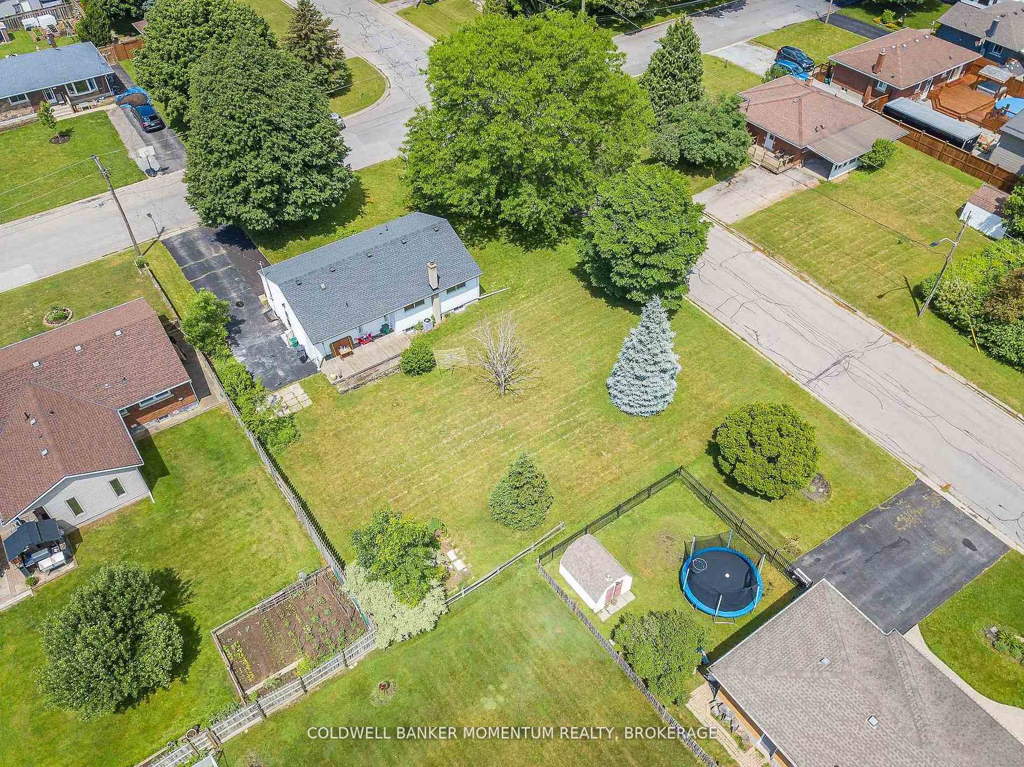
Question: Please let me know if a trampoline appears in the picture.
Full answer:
Yes, the frame does contain a trampoline.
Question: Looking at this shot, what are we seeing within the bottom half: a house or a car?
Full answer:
Visible within the bottom half is a house.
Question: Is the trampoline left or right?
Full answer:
The trampoline sits on the right side.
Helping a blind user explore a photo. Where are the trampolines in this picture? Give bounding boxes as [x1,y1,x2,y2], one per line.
[679,529,768,624]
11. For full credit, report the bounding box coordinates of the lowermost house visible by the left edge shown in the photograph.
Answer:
[0,294,198,528]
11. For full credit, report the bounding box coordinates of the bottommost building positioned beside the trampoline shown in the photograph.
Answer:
[703,578,1024,767]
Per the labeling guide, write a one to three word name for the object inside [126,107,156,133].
car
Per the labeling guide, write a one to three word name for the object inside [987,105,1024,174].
house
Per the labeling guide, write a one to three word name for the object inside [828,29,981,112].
house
